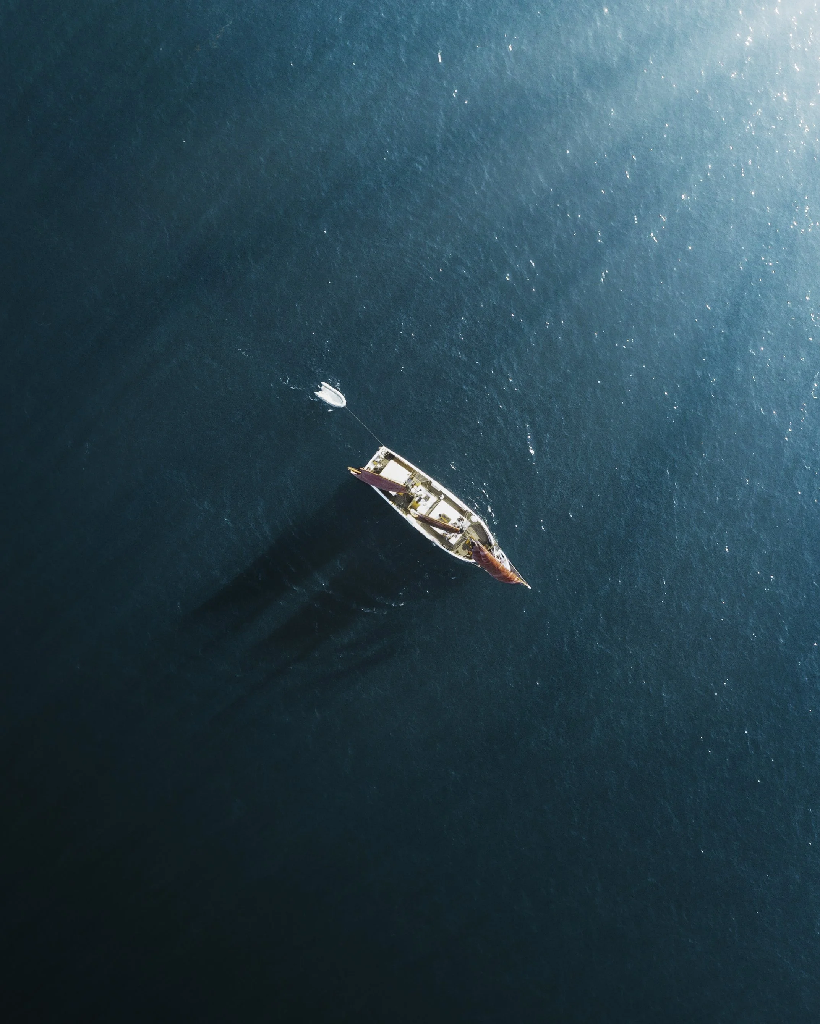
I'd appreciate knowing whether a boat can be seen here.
Yes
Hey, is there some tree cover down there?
No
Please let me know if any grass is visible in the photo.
No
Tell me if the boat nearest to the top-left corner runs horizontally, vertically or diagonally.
diagonally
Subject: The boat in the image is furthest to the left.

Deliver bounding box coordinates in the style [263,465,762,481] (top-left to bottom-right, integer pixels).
[316,382,346,408]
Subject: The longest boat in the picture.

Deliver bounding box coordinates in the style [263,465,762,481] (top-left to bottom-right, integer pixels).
[345,445,531,589]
